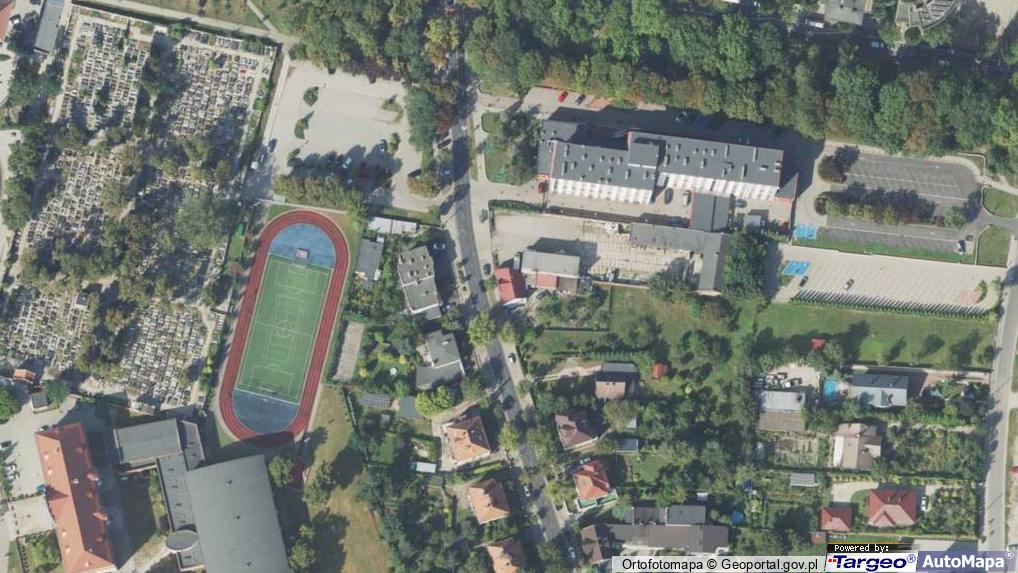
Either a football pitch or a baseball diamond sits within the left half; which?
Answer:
football pitch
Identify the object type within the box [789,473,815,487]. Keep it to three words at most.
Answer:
greenhouse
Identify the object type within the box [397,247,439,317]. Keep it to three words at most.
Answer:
building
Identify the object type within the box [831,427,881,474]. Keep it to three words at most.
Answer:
house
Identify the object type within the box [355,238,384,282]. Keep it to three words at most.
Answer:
shed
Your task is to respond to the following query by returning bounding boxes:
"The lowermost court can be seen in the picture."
[236,389,298,432]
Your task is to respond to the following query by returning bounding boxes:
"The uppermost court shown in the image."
[271,224,335,269]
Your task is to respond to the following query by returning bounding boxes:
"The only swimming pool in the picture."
[821,378,839,398]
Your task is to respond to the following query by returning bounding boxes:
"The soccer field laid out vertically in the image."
[238,254,332,405]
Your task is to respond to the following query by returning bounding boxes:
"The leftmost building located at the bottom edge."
[36,423,111,573]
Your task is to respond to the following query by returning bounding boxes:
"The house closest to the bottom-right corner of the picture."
[867,490,917,530]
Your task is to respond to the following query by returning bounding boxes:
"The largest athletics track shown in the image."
[220,209,350,448]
